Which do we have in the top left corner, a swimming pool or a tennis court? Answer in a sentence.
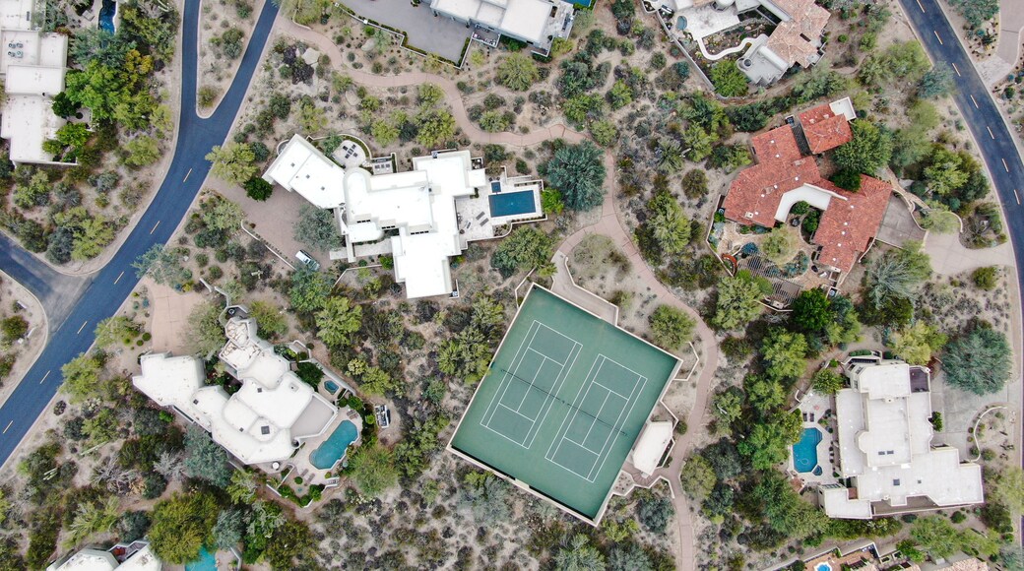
The one visible in the top left corner is a swimming pool.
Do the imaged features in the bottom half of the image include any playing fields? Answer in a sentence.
Yes, a playing field can be seen in the bottom half of the image.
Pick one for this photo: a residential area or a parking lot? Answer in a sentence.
This image shows a residential area.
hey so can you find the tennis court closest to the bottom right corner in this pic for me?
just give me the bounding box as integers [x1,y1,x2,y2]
[545,354,647,482]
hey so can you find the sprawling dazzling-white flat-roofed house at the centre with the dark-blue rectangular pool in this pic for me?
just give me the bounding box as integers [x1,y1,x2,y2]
[263,134,487,298]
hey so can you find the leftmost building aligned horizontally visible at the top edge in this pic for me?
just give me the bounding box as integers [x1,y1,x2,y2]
[431,0,552,52]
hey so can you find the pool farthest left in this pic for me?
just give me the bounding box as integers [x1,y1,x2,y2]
[97,0,119,44]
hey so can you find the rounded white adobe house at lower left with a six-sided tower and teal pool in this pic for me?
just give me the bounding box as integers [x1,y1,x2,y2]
[134,314,343,464]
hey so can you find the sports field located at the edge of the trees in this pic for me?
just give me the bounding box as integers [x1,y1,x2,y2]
[451,285,677,518]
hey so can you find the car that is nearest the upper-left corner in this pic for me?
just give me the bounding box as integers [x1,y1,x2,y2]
[296,250,321,269]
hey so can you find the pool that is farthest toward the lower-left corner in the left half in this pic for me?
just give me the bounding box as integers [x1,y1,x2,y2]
[184,538,221,571]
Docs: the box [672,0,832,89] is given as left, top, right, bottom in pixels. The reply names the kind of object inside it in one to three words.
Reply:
house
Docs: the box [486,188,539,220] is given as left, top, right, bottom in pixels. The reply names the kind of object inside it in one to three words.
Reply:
swimming pool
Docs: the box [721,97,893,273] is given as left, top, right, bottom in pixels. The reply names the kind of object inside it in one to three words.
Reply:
house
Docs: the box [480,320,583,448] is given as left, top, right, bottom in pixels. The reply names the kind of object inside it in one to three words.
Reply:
tennis court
